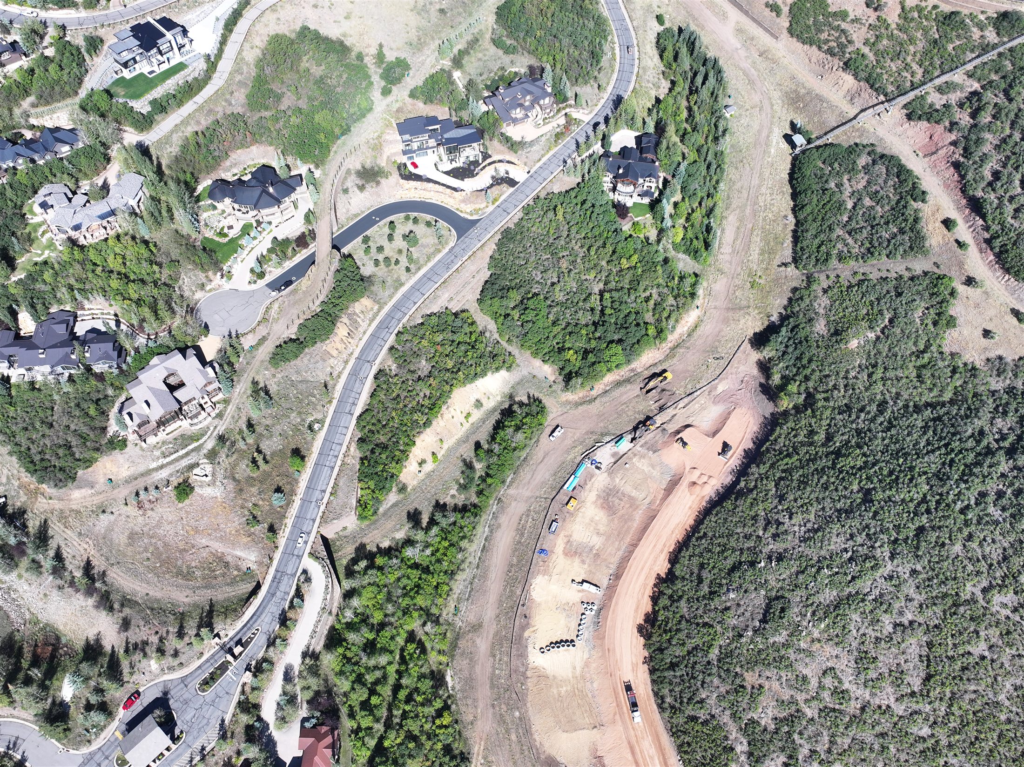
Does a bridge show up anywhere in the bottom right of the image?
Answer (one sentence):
No, no bridge is visible in the bottom right of the image.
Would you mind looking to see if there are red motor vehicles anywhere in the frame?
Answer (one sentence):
Yes, you can see a red motor vehicle in this photo.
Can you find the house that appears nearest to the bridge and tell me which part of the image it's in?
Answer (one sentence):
The house that appears nearest to the bridge sits in the top left section of the image.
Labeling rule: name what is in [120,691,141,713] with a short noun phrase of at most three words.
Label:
truck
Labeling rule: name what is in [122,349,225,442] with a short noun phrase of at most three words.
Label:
house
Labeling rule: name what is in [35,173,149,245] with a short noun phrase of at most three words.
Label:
house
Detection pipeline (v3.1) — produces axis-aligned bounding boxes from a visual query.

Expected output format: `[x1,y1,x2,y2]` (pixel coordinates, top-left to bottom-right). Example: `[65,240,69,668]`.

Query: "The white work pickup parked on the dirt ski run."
[549,425,565,441]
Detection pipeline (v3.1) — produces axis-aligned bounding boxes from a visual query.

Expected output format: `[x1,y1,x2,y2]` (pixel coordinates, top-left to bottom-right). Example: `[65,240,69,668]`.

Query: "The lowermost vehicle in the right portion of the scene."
[624,683,642,723]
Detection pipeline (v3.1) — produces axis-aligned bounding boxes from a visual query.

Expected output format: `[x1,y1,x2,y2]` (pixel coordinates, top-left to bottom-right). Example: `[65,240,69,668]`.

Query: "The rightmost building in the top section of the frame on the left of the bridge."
[208,165,311,229]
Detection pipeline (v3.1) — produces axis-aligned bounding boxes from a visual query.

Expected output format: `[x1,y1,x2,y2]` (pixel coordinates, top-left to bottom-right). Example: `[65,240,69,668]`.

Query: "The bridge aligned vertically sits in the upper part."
[311,196,340,270]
